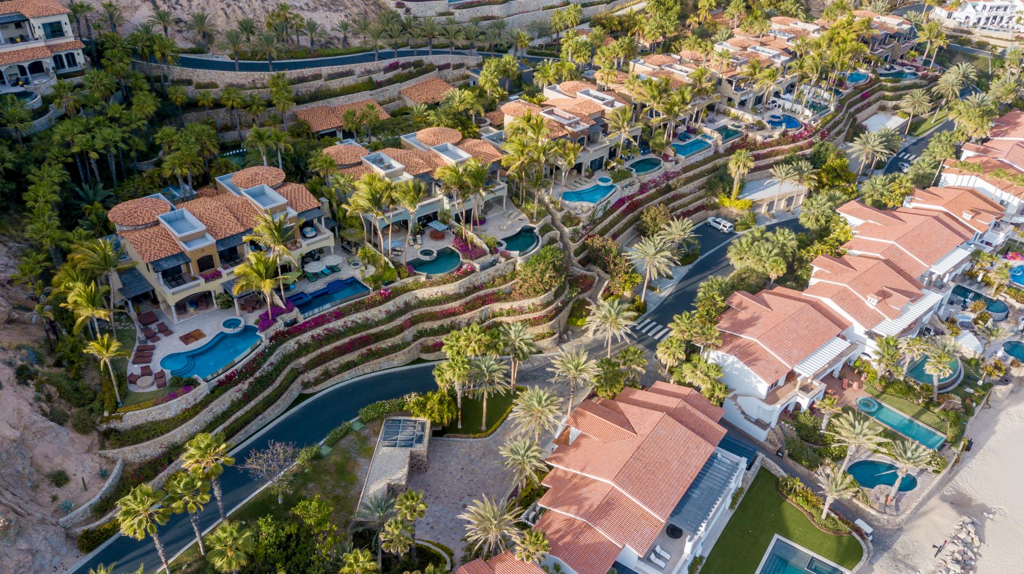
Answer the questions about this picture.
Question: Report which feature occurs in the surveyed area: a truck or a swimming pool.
swimming pool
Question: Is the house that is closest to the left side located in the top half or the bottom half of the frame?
top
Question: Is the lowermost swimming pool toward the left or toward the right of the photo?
right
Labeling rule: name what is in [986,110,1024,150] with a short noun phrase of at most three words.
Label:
house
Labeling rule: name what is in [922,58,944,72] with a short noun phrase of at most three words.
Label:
swimming pool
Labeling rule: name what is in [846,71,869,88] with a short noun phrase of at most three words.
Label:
swimming pool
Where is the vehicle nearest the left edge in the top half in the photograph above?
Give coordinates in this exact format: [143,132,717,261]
[707,215,737,232]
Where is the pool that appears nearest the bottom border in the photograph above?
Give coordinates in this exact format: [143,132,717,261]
[747,533,852,574]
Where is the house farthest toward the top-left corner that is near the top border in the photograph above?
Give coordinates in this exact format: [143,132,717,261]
[0,6,87,79]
